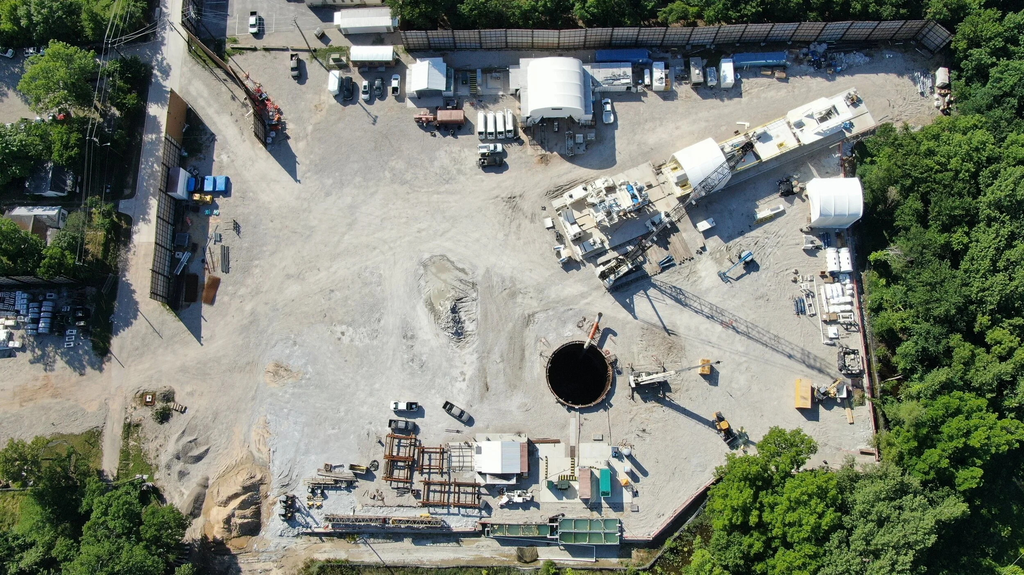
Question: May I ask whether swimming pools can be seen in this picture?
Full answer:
No, the picture doesn't show any swimming pool.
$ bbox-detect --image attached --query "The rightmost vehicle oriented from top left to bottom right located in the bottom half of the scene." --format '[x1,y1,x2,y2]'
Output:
[713,413,737,446]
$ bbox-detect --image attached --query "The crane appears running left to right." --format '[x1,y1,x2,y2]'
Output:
[625,359,722,402]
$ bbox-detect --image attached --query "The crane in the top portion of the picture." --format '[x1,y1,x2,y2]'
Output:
[590,115,776,296]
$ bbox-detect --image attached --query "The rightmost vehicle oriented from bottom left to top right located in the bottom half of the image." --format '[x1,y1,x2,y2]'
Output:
[812,377,849,405]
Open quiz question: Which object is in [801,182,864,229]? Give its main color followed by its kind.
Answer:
white tent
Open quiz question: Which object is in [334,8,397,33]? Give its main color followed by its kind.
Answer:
white trailer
